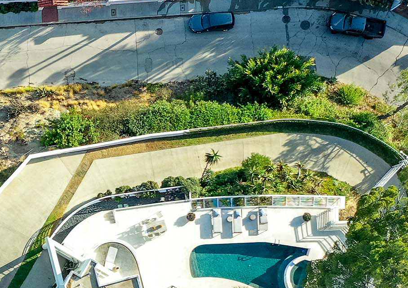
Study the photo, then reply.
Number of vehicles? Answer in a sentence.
In total, there are 2 vehicles in the scene.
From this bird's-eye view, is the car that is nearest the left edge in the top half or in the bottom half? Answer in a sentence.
The top half of the photo is where the car that is nearest the left edge is.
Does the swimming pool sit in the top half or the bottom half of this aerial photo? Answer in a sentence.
It is in the bottom half that the swimming pool appears.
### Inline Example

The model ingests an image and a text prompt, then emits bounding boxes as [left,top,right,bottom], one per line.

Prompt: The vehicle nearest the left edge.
[186,10,236,36]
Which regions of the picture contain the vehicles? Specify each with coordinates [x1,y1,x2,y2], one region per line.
[186,10,236,36]
[325,11,388,42]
